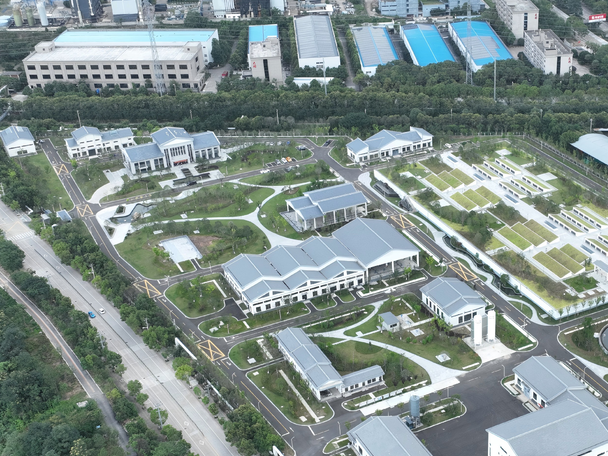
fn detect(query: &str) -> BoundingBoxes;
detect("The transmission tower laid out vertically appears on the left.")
[138,0,168,85]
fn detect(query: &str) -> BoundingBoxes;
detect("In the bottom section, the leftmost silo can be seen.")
[399,384,427,432]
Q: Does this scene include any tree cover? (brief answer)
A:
Yes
